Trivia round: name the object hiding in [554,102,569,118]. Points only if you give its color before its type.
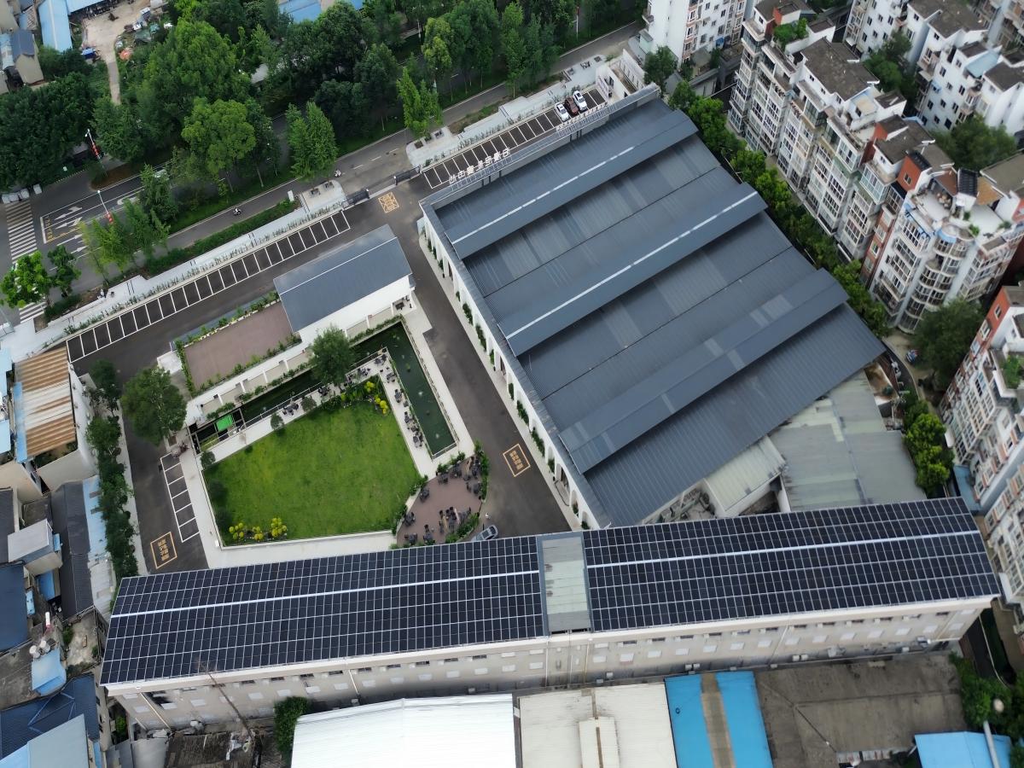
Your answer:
white car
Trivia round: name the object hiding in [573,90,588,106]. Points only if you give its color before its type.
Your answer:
white car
